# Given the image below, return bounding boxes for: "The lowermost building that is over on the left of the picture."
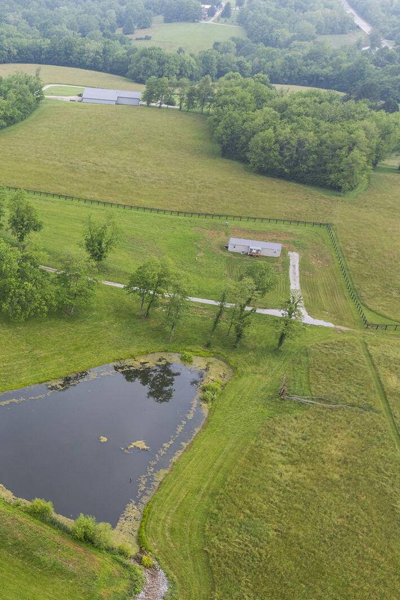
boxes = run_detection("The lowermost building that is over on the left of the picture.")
[83,91,141,105]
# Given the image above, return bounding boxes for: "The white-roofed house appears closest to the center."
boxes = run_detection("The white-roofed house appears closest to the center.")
[229,235,282,257]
